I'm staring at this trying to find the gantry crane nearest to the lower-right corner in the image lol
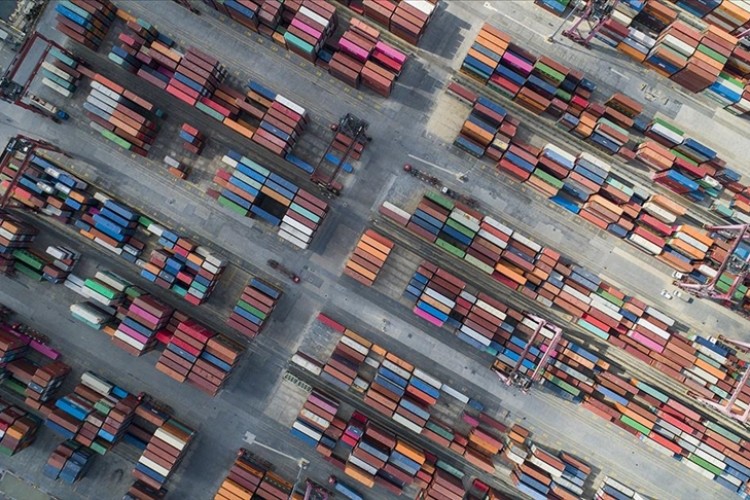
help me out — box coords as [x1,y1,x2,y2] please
[687,335,750,425]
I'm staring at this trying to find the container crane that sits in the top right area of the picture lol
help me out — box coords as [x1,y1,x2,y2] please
[560,0,620,48]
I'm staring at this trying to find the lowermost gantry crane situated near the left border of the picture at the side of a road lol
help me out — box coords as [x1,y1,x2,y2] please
[0,130,66,215]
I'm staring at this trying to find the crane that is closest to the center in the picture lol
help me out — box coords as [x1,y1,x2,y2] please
[309,111,371,198]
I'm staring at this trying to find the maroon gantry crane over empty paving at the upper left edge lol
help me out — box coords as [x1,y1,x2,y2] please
[0,23,85,119]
